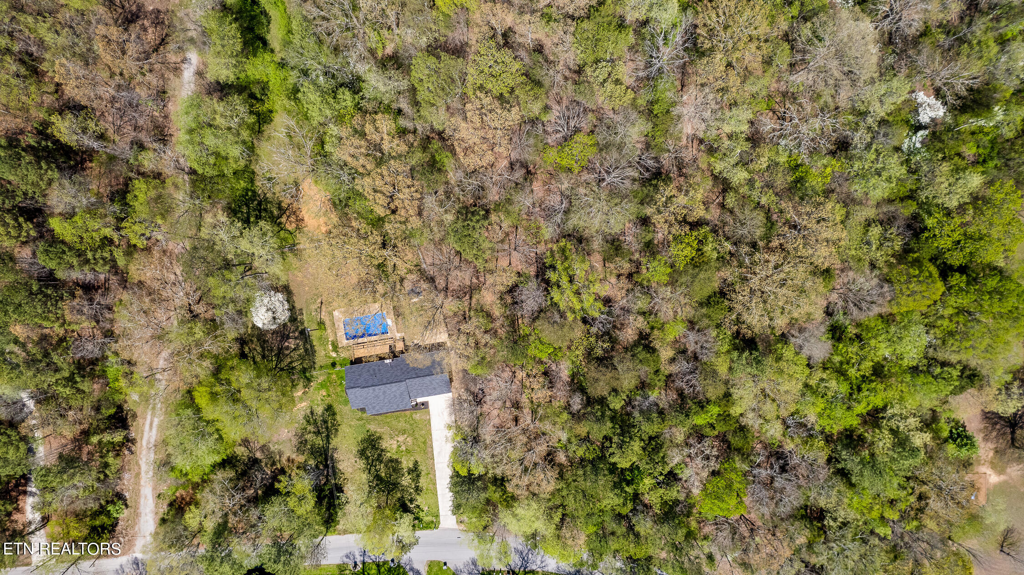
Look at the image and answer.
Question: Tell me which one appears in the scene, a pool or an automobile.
pool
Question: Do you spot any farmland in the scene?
No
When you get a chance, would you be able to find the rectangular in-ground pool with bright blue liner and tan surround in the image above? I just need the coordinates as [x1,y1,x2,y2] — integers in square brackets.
[341,312,390,342]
